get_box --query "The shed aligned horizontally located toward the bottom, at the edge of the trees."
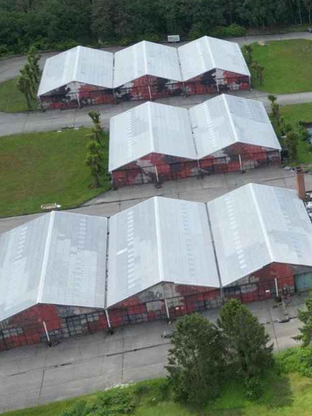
[0,181,312,350]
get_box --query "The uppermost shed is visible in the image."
[36,35,253,112]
